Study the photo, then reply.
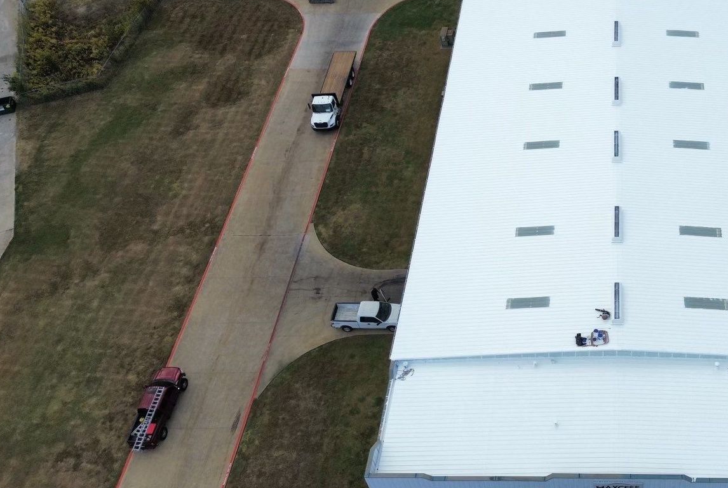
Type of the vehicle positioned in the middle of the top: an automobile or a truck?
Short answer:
truck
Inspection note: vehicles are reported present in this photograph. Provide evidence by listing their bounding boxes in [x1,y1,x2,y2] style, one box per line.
[330,300,398,333]
[124,365,187,448]
[306,50,357,134]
